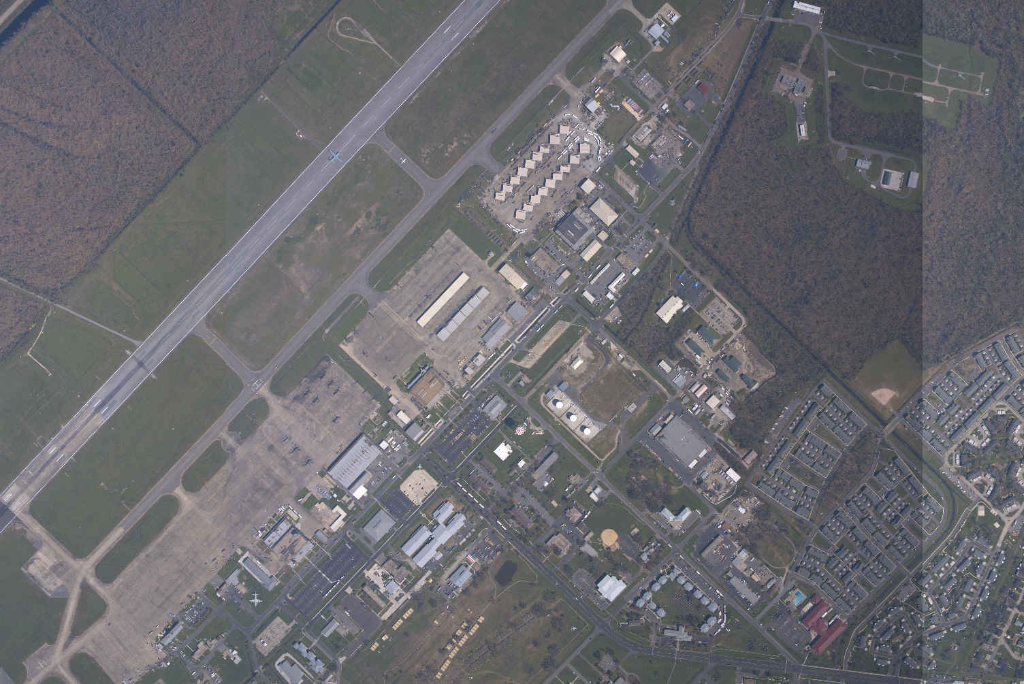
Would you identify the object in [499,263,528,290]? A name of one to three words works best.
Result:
hangar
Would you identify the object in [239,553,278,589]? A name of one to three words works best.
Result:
hangar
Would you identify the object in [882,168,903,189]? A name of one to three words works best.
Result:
building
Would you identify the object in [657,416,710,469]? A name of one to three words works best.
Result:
building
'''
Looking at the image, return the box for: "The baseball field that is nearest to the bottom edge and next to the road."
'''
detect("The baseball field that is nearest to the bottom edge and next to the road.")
[588,510,632,550]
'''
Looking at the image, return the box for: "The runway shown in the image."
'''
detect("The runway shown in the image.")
[0,0,501,515]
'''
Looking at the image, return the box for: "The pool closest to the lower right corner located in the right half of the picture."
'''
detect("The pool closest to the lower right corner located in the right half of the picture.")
[785,588,807,606]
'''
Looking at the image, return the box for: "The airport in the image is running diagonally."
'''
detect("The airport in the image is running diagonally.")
[0,0,680,684]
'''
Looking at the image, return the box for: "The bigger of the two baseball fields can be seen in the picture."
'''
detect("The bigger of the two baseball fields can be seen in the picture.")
[861,346,919,418]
